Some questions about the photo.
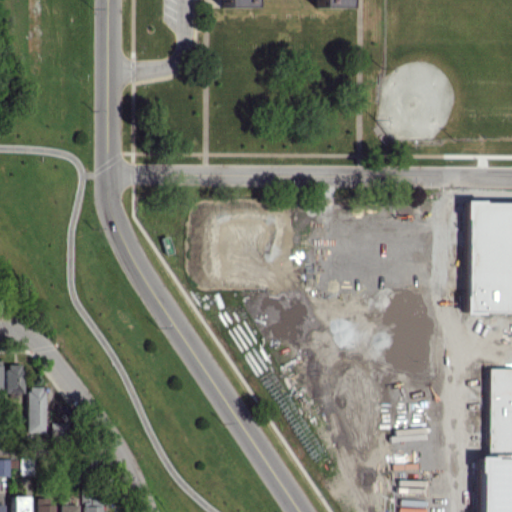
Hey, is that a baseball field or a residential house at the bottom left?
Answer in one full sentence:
It is a residential house that can be seen at the bottom left.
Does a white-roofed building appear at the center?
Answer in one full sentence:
No, there's no white-roofed building to be seen at the center.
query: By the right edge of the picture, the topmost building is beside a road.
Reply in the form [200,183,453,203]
[463,200,512,316]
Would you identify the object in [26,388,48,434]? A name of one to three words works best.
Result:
house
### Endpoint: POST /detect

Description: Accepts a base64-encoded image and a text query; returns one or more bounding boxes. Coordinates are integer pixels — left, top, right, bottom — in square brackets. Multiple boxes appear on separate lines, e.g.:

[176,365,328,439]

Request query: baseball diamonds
[380,60,454,139]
